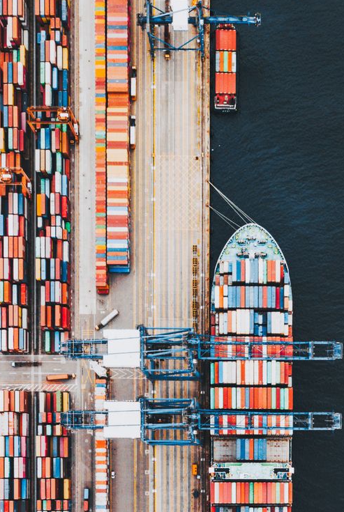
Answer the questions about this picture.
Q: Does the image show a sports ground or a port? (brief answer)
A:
port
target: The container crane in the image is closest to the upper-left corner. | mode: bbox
[27,106,78,141]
